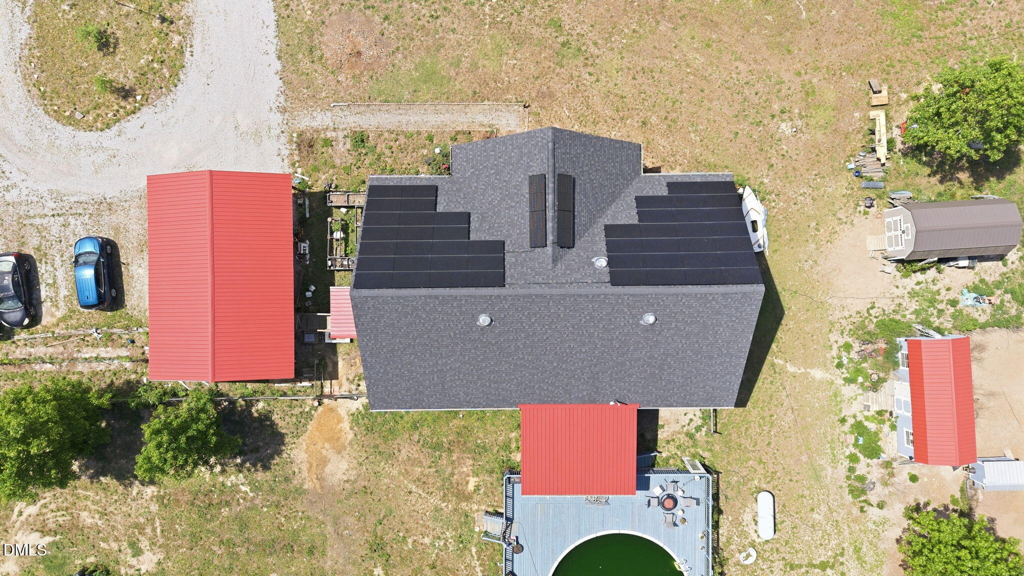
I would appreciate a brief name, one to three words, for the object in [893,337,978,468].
shed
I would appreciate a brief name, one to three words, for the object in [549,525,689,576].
swimming pool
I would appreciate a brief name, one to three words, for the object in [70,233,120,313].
car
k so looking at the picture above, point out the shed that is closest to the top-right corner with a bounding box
[881,196,1023,262]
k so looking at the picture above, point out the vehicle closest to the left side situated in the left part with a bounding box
[0,253,39,329]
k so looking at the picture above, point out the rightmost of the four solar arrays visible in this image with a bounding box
[602,181,760,284]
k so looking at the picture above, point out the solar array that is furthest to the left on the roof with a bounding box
[352,184,505,287]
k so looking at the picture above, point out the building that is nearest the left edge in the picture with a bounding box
[146,170,306,386]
